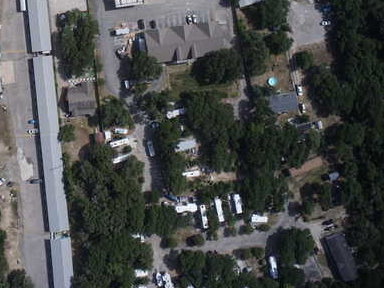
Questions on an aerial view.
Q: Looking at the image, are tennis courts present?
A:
No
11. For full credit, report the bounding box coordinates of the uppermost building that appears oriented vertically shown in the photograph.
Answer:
[27,0,51,52]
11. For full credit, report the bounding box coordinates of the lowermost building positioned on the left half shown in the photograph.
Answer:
[50,234,75,288]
